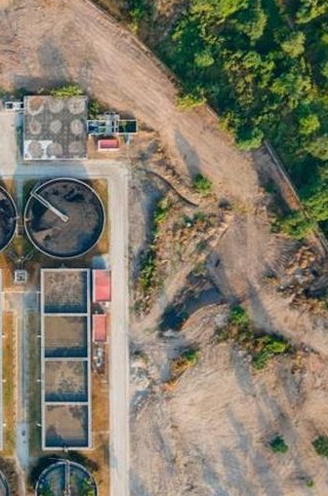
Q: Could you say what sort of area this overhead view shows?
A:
industrial area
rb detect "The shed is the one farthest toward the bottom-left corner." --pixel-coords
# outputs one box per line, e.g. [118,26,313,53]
[90,314,106,344]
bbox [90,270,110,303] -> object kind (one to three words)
shed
